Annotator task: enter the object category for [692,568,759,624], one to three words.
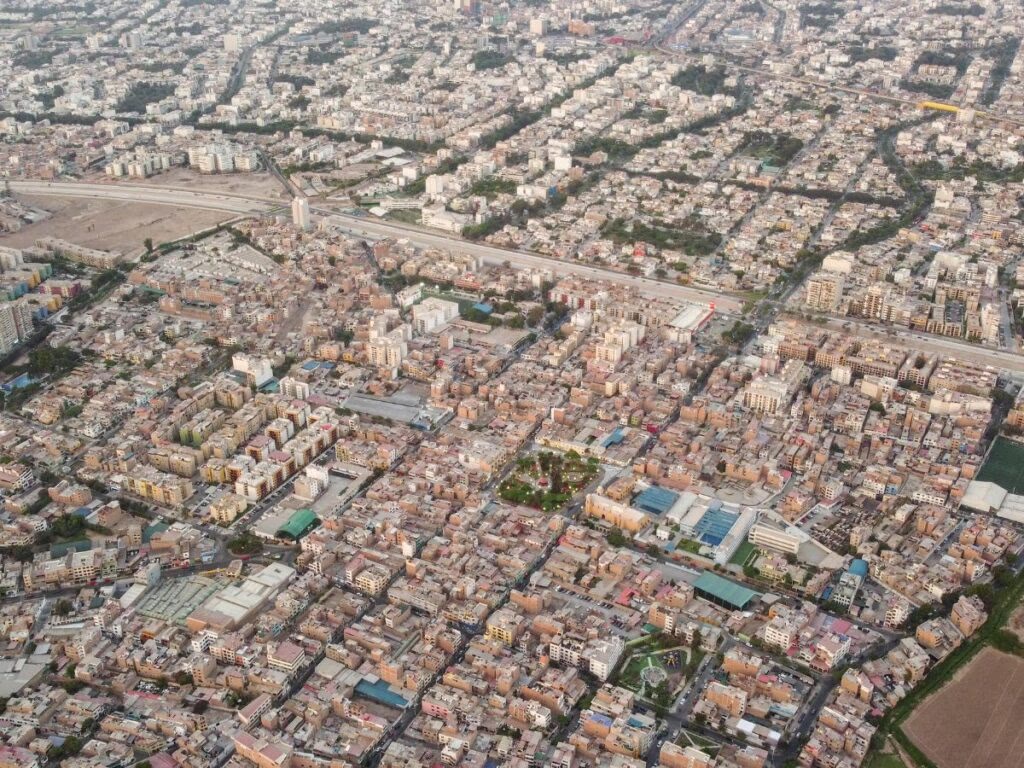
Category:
shed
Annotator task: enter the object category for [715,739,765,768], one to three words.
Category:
house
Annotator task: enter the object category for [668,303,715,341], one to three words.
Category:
building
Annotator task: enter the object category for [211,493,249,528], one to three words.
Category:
building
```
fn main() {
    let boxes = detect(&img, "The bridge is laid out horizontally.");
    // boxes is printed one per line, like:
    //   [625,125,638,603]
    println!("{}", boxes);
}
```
[650,39,1024,122]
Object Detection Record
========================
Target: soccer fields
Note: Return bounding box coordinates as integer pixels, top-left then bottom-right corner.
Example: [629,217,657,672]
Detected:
[977,435,1024,497]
